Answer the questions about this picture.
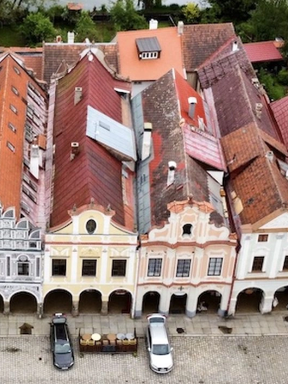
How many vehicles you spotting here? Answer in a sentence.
There are 2 vehicles in the image.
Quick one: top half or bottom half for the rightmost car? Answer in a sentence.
It is in the bottom half that the rightmost car appears.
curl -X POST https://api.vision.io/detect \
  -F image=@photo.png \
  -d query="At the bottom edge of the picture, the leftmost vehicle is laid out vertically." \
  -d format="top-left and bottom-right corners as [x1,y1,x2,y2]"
[50,315,78,370]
